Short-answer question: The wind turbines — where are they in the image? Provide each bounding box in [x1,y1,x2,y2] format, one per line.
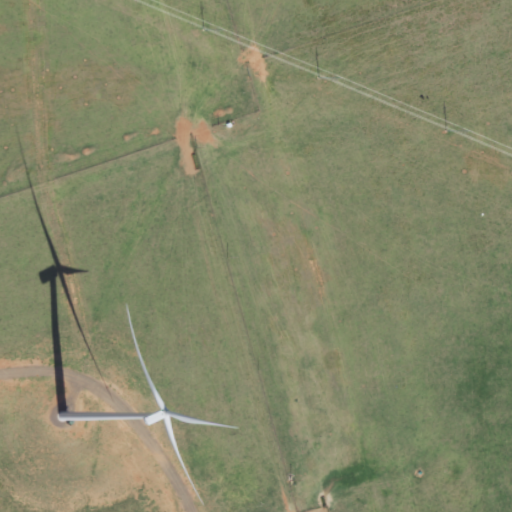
[59,304,238,504]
